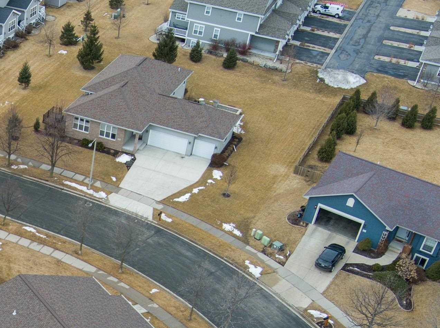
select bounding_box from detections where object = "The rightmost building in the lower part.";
[302,150,440,262]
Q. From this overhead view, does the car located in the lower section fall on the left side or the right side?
right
